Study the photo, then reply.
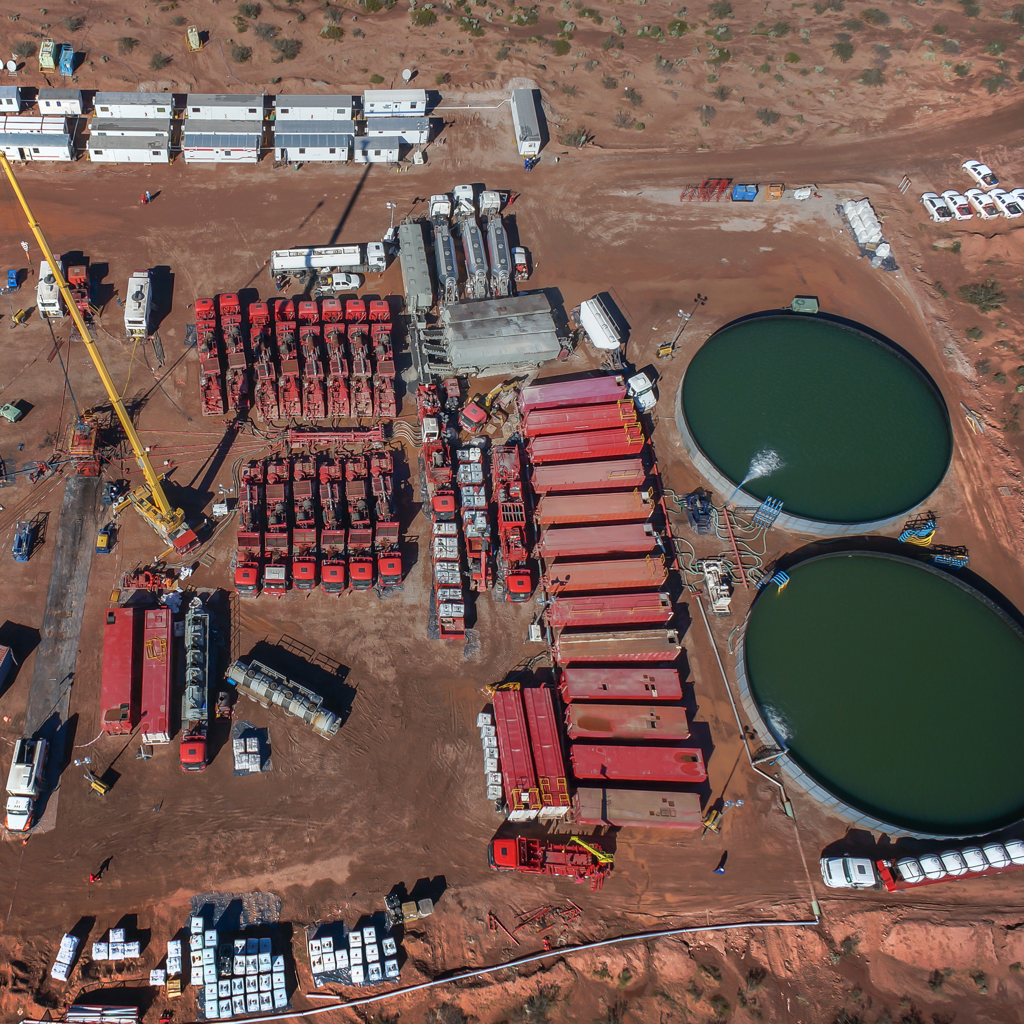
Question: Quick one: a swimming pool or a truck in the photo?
truck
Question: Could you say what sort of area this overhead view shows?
industrial area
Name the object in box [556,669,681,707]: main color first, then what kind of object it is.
red storage tank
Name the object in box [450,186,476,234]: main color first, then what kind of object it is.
white truck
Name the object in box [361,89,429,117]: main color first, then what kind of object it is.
white trailer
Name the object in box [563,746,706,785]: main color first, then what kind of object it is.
red storage tank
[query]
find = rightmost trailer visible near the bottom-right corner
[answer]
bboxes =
[879,841,1024,890]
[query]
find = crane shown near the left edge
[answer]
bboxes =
[0,145,210,566]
